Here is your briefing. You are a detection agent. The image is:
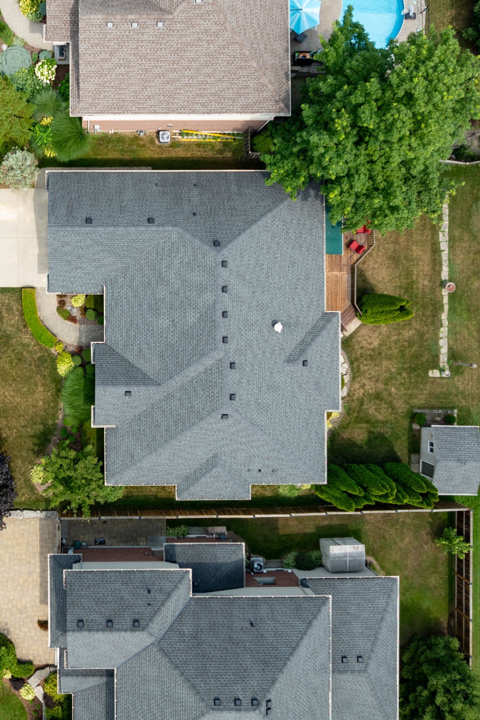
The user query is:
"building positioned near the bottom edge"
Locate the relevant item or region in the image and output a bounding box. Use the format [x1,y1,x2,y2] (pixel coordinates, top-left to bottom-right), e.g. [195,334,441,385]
[46,533,401,720]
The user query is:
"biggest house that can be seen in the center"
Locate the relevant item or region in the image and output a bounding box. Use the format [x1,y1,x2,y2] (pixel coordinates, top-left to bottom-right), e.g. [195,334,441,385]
[45,170,343,502]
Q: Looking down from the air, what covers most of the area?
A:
buildings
